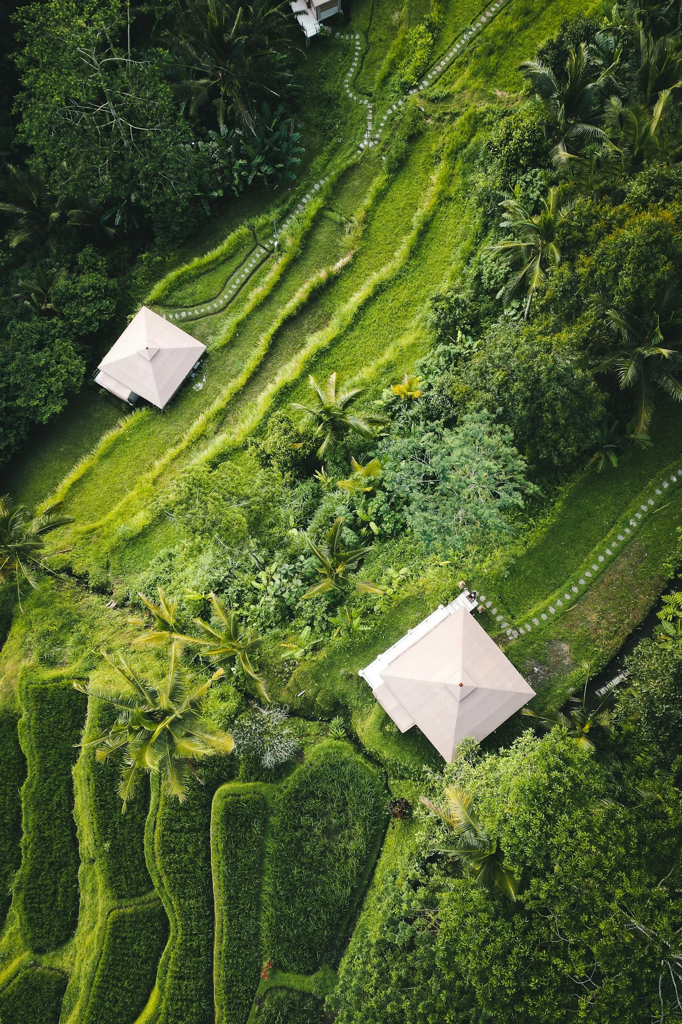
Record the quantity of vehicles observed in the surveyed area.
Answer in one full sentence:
The picture shows no vehicles.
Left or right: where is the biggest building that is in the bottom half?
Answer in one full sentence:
You can find the biggest building that is in the bottom half on the right side of the picture.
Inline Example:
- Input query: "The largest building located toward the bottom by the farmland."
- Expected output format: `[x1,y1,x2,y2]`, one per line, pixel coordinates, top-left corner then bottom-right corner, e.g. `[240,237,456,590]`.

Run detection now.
[363,585,535,765]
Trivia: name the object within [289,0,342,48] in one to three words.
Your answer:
building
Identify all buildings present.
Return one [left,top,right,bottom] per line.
[289,0,342,48]
[363,585,535,765]
[92,309,208,411]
